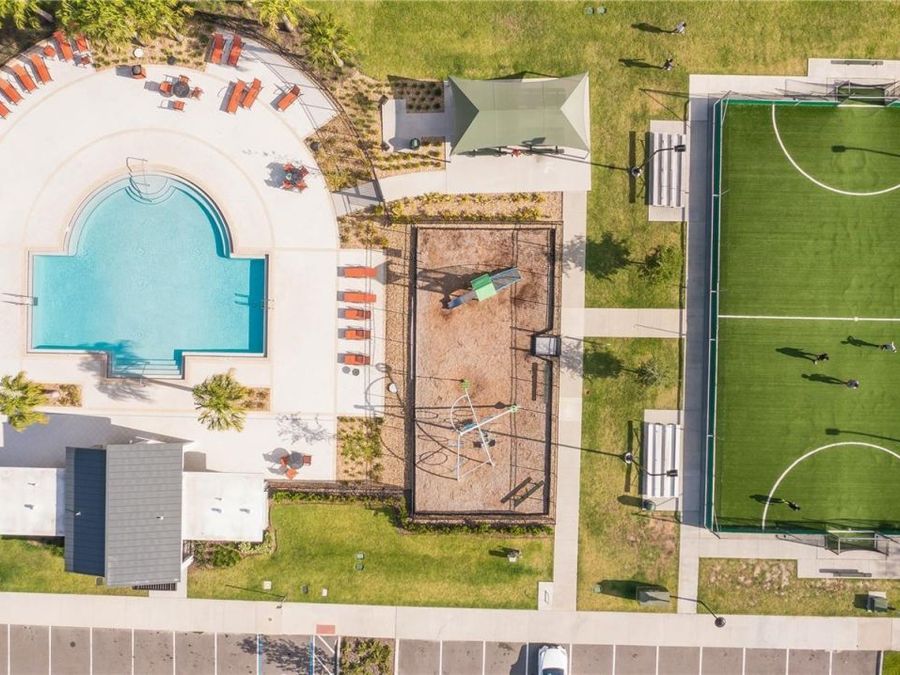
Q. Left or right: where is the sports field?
right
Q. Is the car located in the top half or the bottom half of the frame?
bottom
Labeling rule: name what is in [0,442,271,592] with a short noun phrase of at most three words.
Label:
building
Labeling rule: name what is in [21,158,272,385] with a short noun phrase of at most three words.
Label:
swimming pool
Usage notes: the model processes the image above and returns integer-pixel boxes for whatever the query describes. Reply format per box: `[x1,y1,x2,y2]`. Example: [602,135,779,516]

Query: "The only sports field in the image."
[711,86,900,550]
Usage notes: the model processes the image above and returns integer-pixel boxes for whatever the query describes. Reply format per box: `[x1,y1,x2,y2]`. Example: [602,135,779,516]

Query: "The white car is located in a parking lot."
[536,645,571,675]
